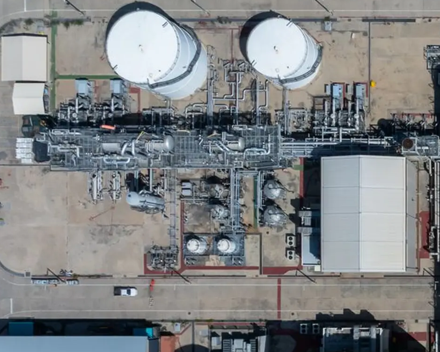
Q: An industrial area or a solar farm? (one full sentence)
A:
This image shows an industrial area.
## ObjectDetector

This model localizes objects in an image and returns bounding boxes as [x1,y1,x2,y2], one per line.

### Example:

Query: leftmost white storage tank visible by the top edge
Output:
[105,11,207,102]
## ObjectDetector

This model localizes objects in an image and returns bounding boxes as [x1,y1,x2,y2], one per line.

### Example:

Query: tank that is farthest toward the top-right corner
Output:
[246,16,324,94]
